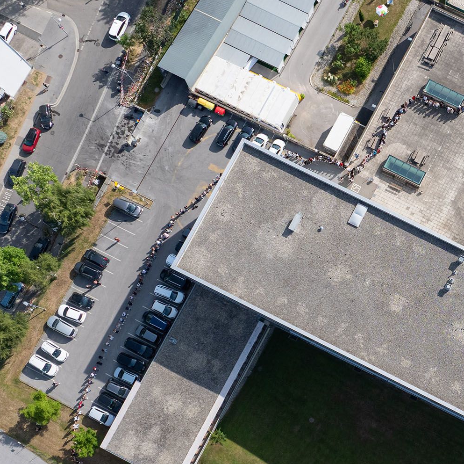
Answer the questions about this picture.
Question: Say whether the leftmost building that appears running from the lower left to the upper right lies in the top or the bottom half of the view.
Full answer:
The top half of the photo is where the leftmost building that appears running from the lower left to the upper right is.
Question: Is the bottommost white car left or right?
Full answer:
You can find the bottommost white car on the left side of the picture.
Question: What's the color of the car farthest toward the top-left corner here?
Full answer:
The color of the car farthest toward the top-left corner is white.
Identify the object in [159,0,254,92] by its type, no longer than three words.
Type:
building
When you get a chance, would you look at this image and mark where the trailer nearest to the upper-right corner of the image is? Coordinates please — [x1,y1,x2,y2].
[323,113,355,158]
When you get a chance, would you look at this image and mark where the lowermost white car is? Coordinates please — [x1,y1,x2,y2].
[85,404,113,428]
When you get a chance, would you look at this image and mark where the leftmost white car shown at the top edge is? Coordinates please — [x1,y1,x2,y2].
[0,21,20,44]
